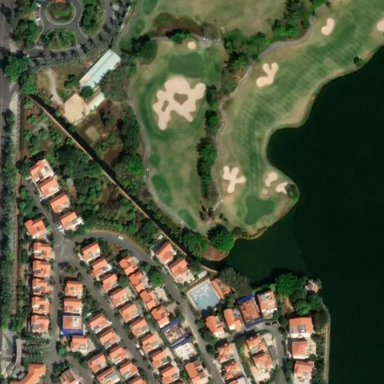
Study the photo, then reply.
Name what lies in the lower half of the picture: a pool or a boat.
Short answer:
pool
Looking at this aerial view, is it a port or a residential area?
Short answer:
residential area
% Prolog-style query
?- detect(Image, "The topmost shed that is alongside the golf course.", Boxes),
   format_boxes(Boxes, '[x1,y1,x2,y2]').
[81,51,120,89]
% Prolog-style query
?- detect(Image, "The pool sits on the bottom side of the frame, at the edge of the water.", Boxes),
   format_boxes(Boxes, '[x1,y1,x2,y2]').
[188,278,222,315]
